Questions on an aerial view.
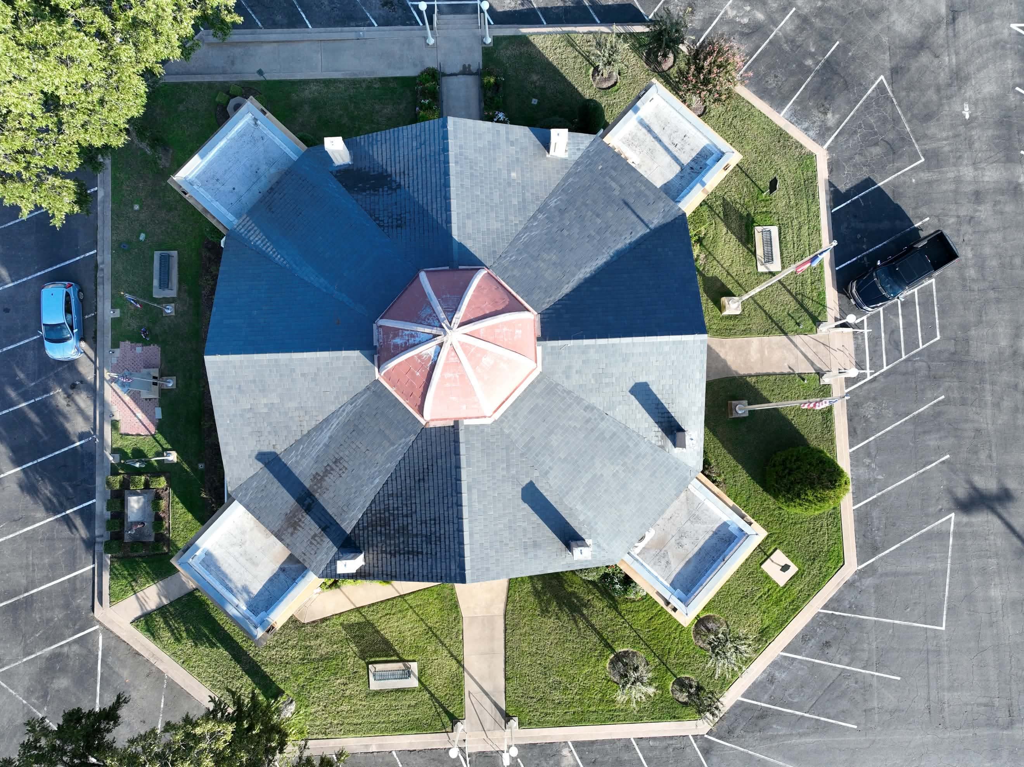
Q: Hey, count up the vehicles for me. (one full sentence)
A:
I count 2 vehicles.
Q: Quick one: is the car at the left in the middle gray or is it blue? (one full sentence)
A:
From above, the car at the left in the middle appears blue.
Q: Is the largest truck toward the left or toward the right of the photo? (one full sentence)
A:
The largest truck sits on the right side.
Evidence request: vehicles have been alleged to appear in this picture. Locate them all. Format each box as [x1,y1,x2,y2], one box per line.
[843,229,957,315]
[41,284,89,360]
